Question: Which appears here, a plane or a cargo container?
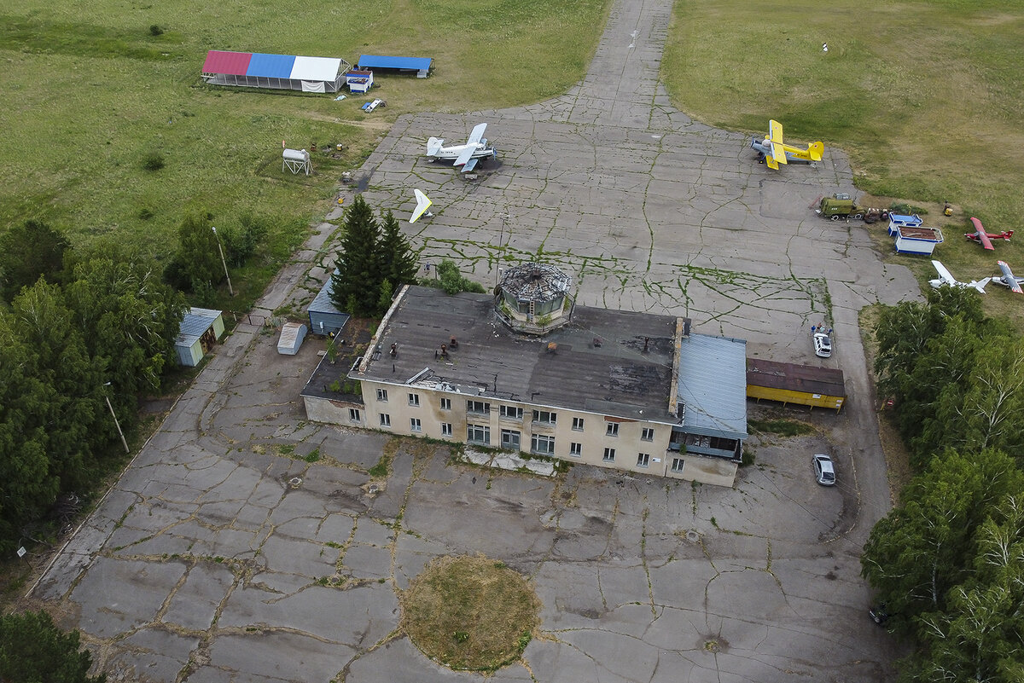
plane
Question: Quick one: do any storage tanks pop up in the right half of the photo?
No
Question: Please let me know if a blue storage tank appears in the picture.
No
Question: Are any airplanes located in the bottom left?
No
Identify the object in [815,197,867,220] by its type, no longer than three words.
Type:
truck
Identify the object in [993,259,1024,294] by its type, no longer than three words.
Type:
airplane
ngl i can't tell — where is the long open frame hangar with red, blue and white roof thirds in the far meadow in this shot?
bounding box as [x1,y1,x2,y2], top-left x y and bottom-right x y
[204,50,351,91]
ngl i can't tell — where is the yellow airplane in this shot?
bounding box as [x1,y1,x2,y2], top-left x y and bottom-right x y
[755,124,830,172]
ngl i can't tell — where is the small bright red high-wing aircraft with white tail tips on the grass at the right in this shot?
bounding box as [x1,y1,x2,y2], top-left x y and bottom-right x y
[965,217,1022,248]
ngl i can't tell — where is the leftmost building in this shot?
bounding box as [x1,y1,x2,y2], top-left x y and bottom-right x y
[173,315,224,367]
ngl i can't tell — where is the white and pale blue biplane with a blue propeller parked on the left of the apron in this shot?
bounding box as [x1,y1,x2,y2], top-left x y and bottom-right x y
[420,125,492,173]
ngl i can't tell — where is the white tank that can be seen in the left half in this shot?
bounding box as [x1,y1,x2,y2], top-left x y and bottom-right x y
[278,148,315,177]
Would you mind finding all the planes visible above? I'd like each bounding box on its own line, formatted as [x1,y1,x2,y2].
[993,259,1024,294]
[420,125,492,173]
[926,256,995,301]
[965,217,1022,248]
[755,124,830,172]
